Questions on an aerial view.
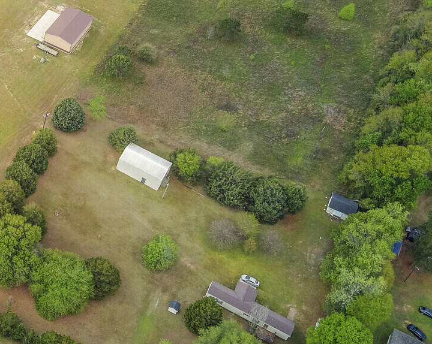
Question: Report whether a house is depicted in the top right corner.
No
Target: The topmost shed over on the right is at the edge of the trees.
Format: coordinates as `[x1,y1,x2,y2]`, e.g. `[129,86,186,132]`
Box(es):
[325,194,360,224]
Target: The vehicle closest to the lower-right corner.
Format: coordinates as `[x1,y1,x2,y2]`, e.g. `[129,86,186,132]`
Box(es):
[406,324,430,343]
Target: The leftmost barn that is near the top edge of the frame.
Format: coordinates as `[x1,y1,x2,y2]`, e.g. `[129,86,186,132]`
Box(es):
[43,7,92,54]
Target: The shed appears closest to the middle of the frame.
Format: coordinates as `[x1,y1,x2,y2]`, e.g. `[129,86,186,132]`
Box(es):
[116,144,170,191]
